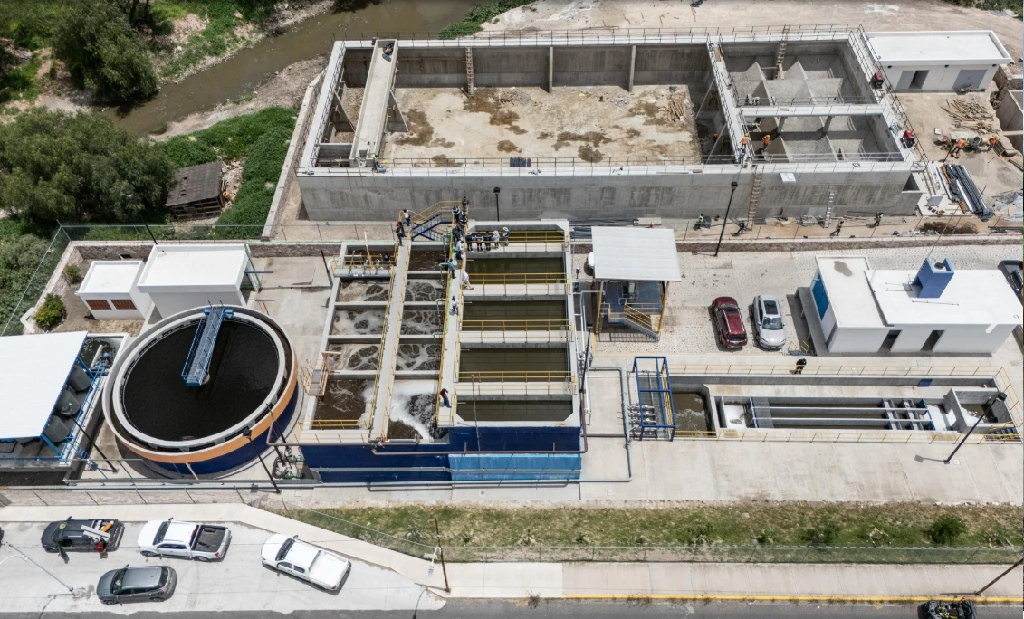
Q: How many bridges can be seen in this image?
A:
1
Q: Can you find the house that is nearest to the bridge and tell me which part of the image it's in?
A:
left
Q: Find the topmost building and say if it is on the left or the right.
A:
right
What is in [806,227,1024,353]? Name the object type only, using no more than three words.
building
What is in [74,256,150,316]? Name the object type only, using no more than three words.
house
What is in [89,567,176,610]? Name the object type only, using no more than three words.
car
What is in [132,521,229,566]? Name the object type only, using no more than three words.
truck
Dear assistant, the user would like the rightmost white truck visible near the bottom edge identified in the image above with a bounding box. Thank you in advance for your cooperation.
[258,537,350,597]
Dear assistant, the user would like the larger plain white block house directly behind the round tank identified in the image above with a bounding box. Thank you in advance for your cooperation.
[137,241,253,316]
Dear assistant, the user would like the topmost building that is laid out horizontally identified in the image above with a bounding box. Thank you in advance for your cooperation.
[870,29,1017,95]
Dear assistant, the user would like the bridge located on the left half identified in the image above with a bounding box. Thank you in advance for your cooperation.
[183,296,242,386]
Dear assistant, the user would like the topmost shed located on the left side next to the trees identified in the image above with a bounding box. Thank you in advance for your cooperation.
[166,160,225,216]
